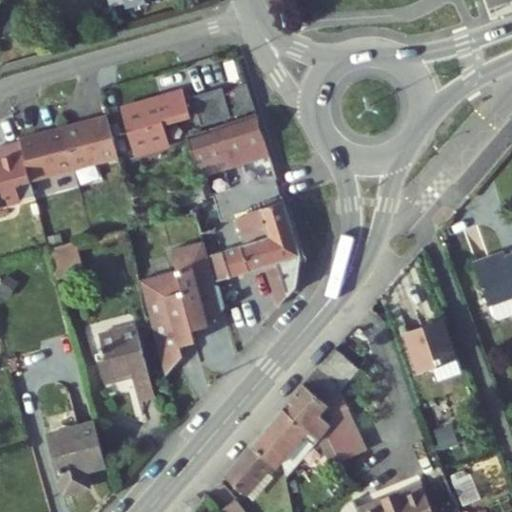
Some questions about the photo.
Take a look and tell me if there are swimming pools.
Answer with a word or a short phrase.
No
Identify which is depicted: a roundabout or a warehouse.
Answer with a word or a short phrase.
roundabout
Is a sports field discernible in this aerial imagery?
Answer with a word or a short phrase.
No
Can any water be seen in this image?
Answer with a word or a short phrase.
No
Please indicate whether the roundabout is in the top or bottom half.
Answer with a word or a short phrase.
top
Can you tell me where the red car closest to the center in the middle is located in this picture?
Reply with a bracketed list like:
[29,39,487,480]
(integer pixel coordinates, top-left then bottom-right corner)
[258,272,271,296]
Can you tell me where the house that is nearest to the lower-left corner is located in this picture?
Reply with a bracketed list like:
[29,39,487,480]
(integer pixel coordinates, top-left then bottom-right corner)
[48,422,106,496]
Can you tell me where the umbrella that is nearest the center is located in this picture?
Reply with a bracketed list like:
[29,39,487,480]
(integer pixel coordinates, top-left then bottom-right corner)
[211,178,228,194]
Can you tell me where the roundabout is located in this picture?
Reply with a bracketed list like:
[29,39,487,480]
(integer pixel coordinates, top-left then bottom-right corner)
[304,42,436,173]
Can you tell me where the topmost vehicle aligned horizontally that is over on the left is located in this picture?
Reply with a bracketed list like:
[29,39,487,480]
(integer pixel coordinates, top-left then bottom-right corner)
[159,74,183,86]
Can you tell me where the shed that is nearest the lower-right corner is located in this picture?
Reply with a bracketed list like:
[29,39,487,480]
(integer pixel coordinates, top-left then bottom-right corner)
[451,473,480,507]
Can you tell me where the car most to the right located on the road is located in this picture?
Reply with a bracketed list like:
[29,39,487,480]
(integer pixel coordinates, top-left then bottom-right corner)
[482,28,506,41]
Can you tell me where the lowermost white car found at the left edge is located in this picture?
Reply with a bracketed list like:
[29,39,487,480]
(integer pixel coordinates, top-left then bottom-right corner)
[22,392,34,414]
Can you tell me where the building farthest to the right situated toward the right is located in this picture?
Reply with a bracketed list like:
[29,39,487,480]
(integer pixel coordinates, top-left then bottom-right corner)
[472,248,512,321]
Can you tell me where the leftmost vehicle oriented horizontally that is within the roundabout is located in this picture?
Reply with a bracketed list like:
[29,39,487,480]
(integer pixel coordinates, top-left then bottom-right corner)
[348,52,372,64]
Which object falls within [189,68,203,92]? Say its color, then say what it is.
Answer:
white car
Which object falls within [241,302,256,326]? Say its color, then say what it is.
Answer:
white car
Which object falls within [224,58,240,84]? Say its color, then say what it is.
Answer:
white vehicle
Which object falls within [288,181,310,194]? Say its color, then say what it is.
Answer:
white vehicle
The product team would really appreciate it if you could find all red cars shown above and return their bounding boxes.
[61,338,71,354]
[258,272,271,296]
